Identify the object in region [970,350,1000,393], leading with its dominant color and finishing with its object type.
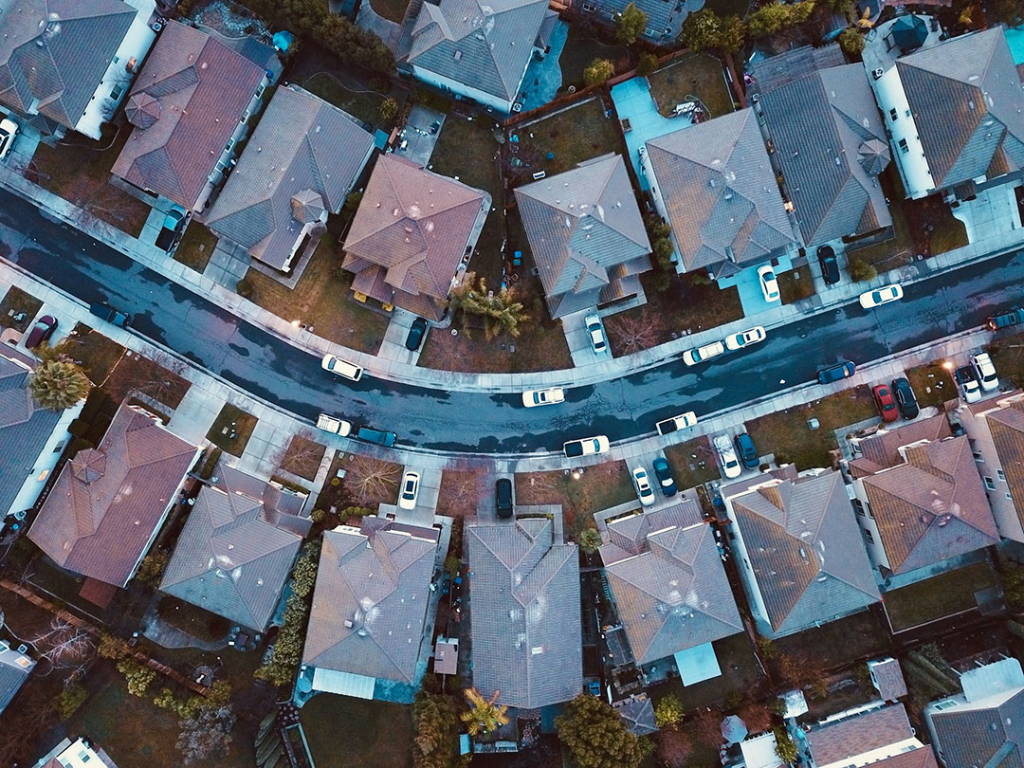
white car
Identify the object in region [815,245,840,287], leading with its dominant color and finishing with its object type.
black car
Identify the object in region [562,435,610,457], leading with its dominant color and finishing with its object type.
white truck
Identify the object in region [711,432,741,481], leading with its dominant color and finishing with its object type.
white truck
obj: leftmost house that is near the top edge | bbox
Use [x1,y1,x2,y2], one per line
[0,0,156,142]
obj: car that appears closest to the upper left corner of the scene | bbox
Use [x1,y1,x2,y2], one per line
[0,118,23,164]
